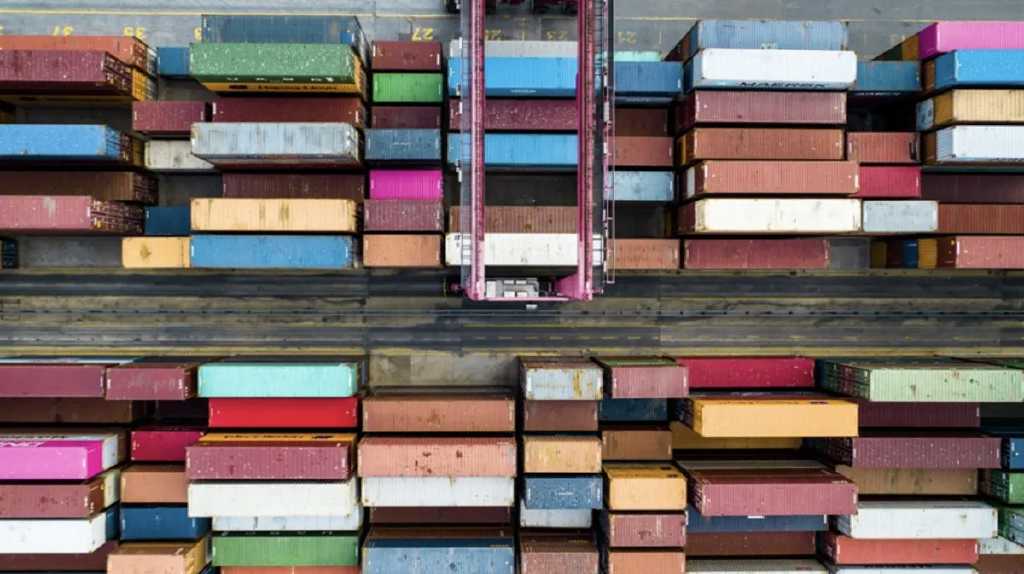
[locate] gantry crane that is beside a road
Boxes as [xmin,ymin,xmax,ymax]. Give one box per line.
[448,0,615,300]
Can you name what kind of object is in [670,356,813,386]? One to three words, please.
shipping container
